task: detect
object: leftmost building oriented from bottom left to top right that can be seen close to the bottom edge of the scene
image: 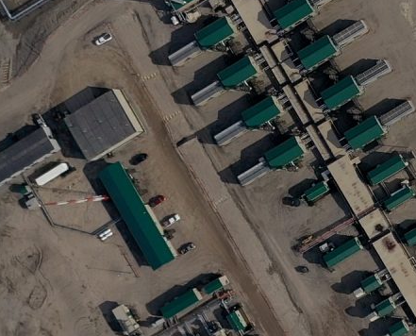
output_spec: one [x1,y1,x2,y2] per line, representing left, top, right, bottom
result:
[158,286,206,324]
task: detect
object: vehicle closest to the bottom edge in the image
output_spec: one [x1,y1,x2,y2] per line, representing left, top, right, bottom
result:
[178,242,198,256]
